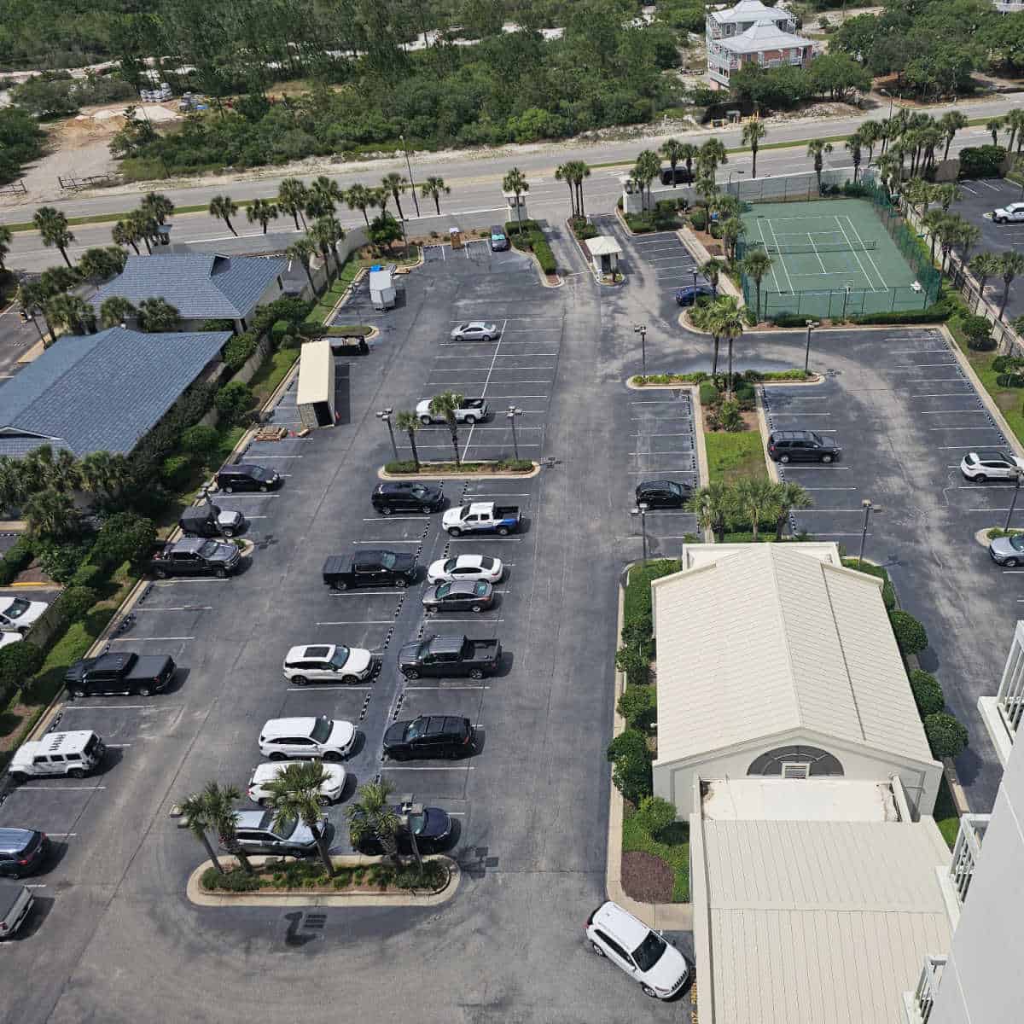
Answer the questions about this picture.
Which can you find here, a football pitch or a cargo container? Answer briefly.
cargo container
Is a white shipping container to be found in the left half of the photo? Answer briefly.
Yes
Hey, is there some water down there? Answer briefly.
No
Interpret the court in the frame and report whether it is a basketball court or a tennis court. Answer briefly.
tennis court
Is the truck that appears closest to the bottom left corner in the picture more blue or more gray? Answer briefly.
gray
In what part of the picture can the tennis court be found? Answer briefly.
top right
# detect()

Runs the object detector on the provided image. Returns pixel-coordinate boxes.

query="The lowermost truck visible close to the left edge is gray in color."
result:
[0,898,37,950]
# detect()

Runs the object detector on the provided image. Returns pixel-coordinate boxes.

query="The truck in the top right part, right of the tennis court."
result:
[990,201,1024,224]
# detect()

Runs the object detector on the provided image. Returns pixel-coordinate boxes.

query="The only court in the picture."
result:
[740,198,933,317]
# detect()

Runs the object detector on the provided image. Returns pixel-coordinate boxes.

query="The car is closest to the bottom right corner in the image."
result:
[582,903,691,1000]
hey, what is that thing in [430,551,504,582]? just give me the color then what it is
white car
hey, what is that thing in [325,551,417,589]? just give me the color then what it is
black truck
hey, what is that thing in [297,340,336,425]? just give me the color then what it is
white shipping container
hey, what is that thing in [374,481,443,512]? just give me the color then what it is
black car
